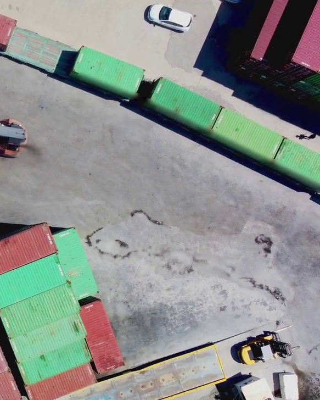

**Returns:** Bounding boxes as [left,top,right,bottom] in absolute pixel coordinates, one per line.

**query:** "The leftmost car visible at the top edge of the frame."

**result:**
[148,4,197,34]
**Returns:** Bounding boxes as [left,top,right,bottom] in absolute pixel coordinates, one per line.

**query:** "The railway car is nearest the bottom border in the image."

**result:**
[137,79,320,193]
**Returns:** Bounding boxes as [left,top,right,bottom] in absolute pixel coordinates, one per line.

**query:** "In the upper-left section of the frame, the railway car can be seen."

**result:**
[0,25,143,102]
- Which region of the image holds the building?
bottom right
